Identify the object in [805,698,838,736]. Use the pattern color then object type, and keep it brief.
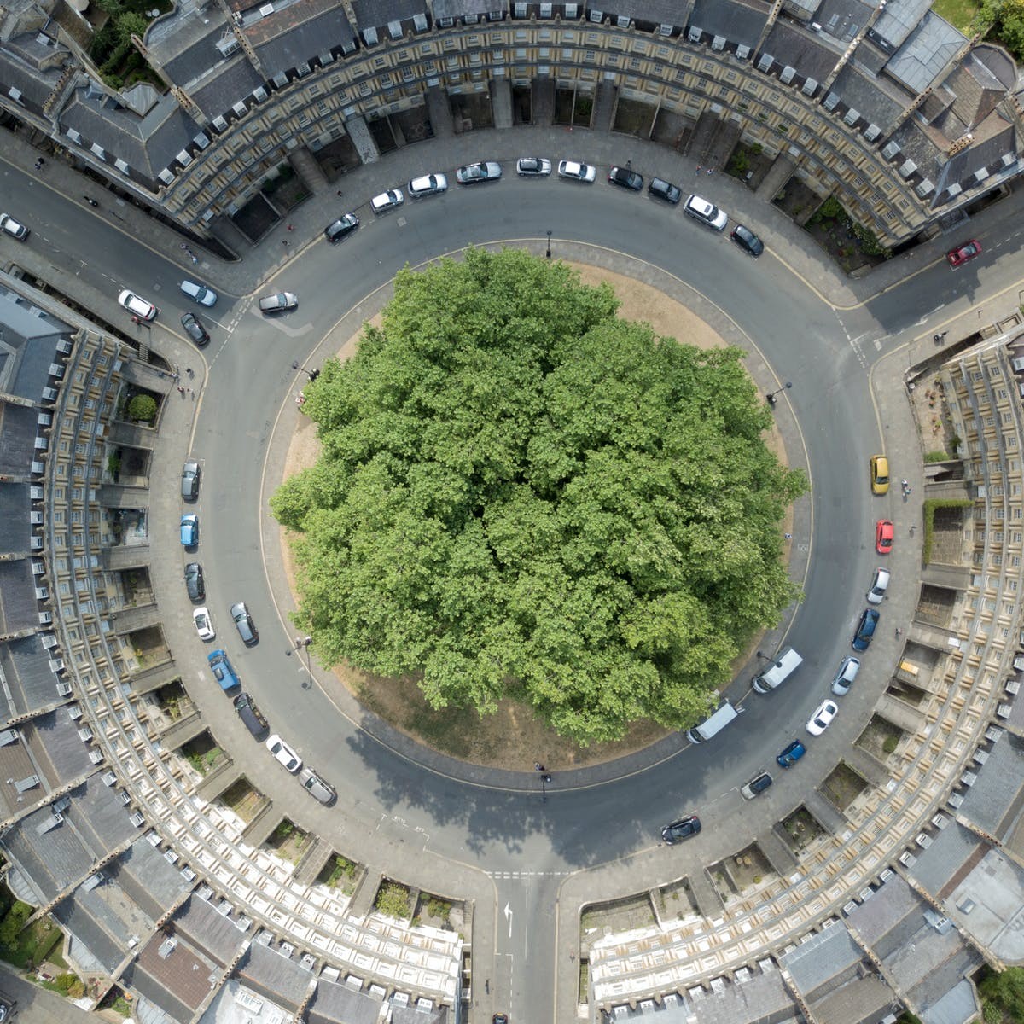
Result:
white car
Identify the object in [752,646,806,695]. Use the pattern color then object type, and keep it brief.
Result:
white van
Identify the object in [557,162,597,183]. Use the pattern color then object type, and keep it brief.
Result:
white car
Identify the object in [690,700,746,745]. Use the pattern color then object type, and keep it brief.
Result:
white van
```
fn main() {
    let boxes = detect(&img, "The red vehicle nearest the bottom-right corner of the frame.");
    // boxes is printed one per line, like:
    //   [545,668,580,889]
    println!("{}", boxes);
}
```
[874,519,895,554]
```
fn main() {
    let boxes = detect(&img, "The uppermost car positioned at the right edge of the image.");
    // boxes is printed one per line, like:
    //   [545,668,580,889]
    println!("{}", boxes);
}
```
[944,240,982,268]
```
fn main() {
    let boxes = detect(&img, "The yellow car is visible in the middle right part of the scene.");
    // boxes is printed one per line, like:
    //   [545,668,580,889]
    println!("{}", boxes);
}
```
[868,456,891,493]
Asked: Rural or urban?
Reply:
urban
